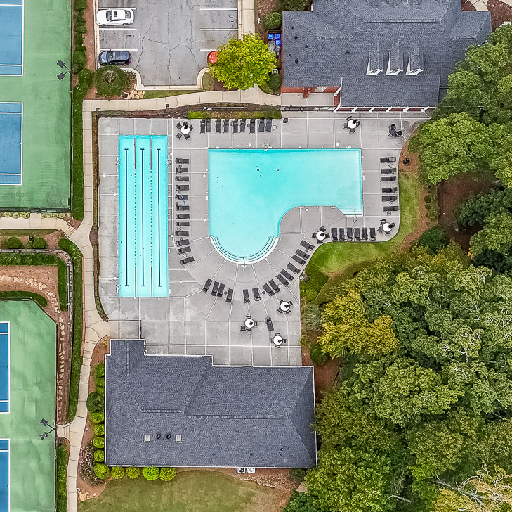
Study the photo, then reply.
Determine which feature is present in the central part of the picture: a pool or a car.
pool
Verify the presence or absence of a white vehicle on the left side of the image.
Yes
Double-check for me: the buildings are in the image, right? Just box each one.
[104,337,318,468]
[277,0,492,112]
